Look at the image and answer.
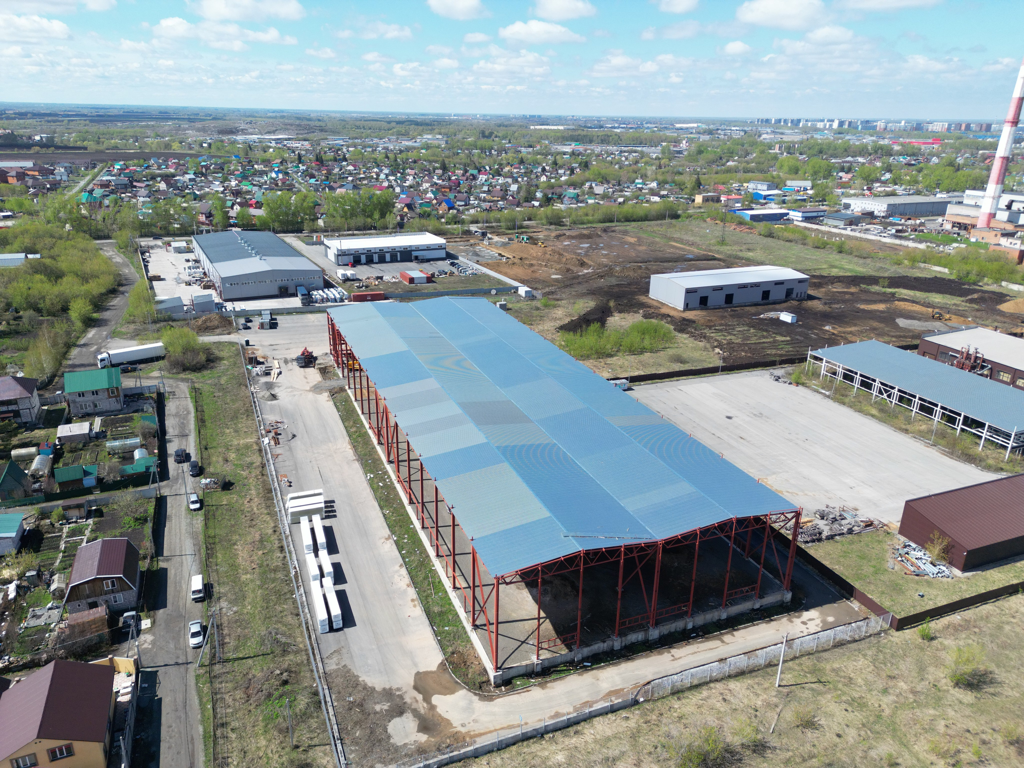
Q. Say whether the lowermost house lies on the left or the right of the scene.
left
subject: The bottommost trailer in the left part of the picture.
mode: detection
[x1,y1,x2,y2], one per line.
[139,669,165,708]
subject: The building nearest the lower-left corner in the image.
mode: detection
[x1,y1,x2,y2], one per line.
[0,642,113,768]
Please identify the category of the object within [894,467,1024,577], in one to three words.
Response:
hangar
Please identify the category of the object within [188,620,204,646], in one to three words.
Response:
car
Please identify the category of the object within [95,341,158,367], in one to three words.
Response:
truck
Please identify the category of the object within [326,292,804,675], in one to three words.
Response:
building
